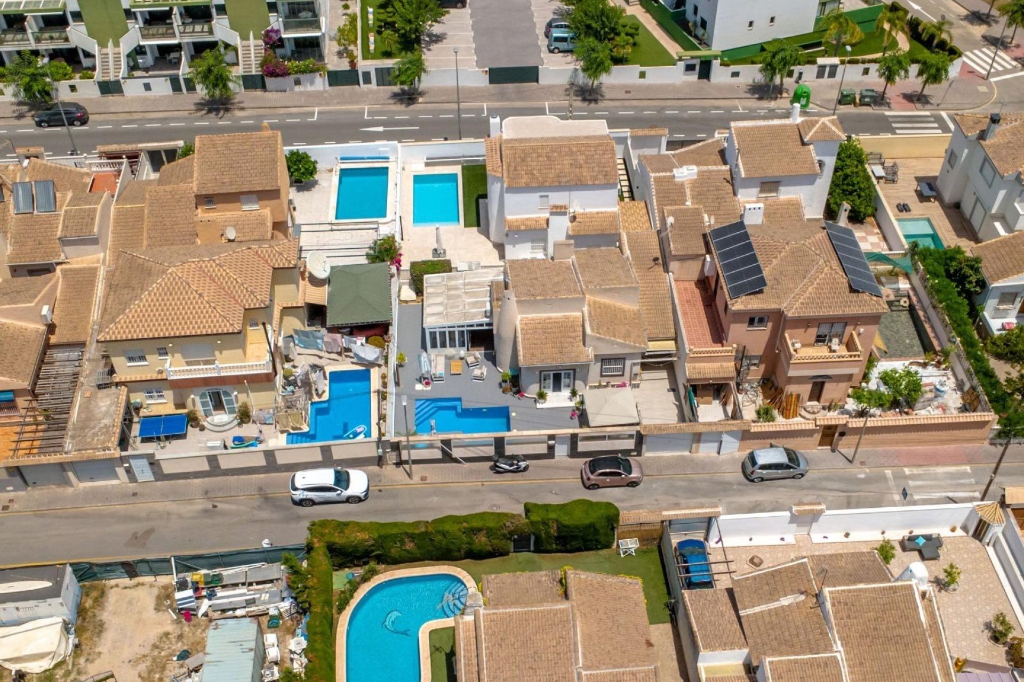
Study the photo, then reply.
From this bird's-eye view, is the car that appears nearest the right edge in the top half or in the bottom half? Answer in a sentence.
It is in the bottom half that the car that appears nearest the right edge appears.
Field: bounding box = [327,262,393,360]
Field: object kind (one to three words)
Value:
building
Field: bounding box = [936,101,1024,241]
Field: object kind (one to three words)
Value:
house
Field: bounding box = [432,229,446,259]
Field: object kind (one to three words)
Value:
umbrella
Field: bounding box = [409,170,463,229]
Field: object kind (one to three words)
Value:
swimming pool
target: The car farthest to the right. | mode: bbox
[742,444,813,483]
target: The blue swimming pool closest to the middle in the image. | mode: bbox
[415,397,510,433]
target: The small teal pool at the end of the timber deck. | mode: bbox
[894,215,942,252]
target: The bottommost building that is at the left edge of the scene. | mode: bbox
[0,440,126,489]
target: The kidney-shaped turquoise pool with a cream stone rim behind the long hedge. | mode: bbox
[337,565,478,682]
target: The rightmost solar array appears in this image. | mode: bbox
[822,220,883,306]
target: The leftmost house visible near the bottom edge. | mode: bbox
[457,570,658,682]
